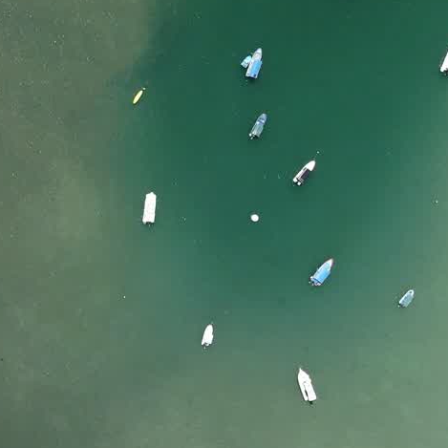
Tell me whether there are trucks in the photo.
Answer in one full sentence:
No, there isn't any truck down there.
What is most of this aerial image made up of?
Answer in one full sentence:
The largest share of the image is taken up by water.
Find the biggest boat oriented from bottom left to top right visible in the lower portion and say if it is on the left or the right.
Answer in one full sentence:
The biggest boat oriented from bottom left to top right visible in the lower portion sits on the right side.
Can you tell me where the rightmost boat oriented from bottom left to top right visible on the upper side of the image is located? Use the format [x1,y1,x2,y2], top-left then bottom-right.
[293,161,314,186]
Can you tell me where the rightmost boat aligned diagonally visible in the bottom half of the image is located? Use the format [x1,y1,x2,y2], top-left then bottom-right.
[398,290,413,309]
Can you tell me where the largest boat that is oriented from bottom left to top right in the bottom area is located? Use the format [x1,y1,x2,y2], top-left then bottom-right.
[308,259,333,288]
